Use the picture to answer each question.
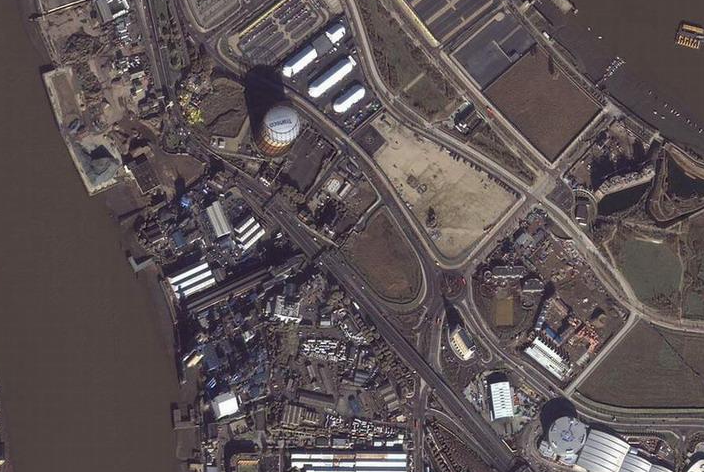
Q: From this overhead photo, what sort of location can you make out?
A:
port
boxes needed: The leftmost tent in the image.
[282,50,315,78]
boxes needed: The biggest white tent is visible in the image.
[306,62,350,101]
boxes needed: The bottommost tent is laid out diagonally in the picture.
[332,89,363,116]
